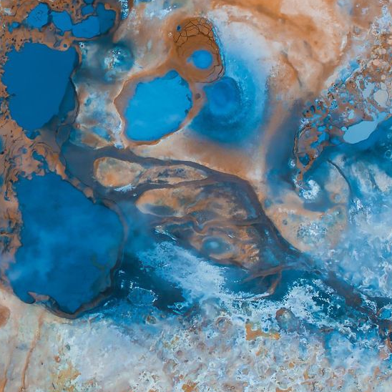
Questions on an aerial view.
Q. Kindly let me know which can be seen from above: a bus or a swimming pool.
swimming pool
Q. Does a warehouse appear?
No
